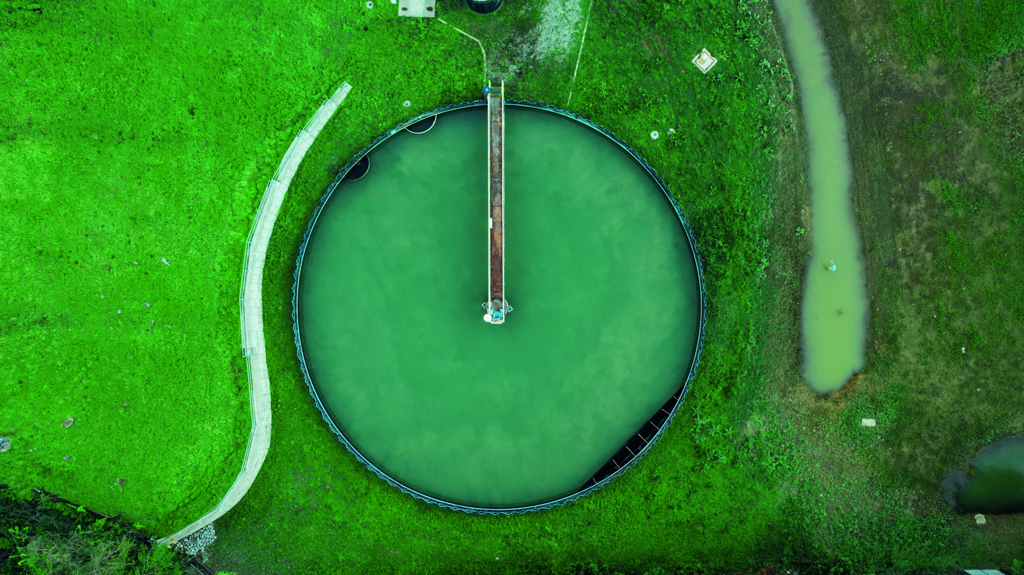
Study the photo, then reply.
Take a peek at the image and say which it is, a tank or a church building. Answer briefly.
tank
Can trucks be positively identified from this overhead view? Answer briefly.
No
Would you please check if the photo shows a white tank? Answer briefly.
No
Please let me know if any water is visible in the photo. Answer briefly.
Yes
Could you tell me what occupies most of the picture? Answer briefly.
grass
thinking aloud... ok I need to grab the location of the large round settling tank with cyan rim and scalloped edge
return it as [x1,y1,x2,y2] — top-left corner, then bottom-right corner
[290,97,708,516]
